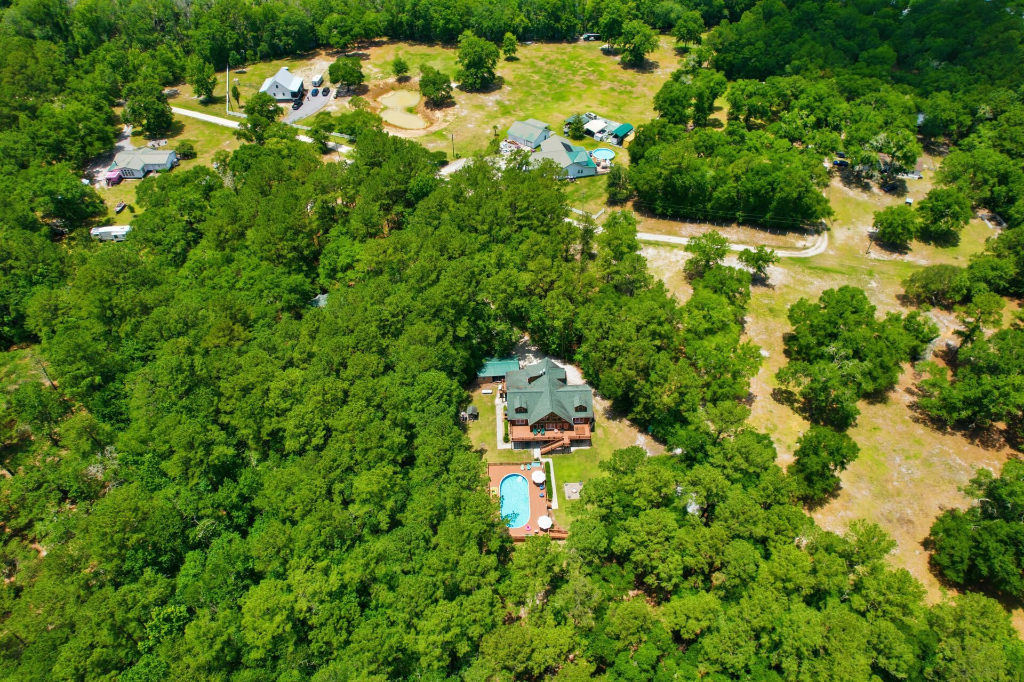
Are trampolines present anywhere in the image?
No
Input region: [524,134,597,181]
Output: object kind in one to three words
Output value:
building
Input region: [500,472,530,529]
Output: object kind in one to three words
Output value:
swimming pool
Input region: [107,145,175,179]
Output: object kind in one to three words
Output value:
house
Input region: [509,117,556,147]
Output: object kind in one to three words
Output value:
building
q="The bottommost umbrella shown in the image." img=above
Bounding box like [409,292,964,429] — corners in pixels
[538,517,552,530]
